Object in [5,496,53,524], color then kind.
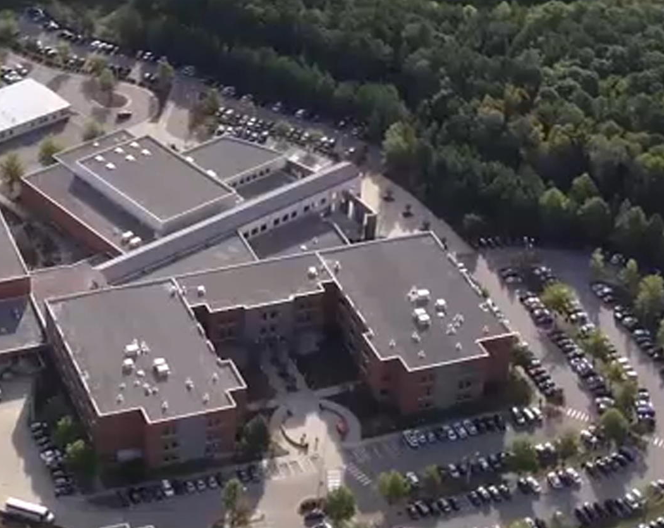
white bus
